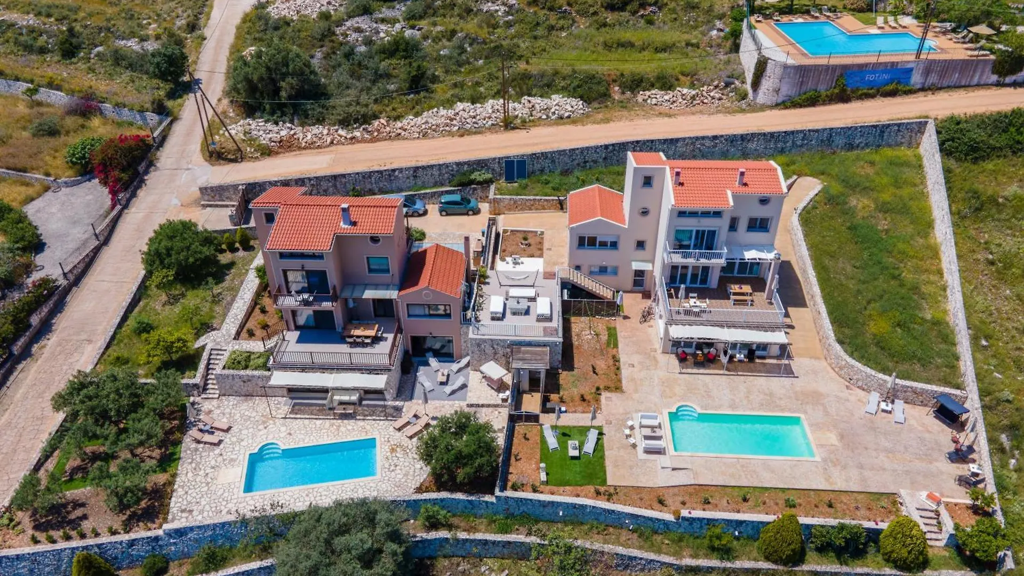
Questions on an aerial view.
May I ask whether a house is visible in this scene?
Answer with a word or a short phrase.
Yes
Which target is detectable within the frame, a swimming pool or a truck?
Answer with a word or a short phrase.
swimming pool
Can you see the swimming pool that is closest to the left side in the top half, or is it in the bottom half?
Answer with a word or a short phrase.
bottom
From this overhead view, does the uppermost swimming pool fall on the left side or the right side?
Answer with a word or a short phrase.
right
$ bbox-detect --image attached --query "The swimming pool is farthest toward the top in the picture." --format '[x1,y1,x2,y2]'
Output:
[767,19,949,57]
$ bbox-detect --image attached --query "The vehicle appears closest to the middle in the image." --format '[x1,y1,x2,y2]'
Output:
[437,194,480,216]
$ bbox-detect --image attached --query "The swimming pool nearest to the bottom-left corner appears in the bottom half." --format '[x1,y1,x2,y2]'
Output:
[237,433,382,497]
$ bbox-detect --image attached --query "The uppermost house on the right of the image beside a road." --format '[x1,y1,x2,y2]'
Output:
[563,151,799,354]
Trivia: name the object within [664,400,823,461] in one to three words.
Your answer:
swimming pool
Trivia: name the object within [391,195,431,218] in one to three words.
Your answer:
car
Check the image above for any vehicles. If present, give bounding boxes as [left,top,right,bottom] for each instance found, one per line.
[437,194,480,216]
[391,195,431,218]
